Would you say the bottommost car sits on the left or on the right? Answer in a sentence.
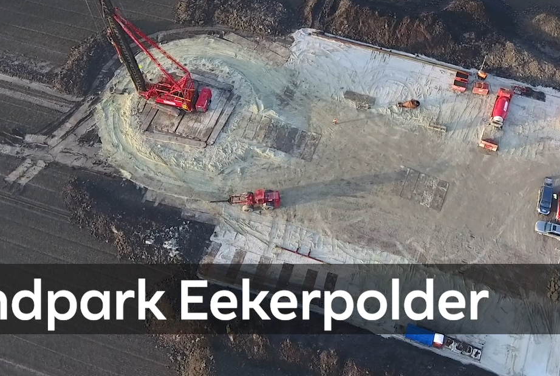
It is on the right.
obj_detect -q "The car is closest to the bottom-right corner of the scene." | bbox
[534,224,560,246]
